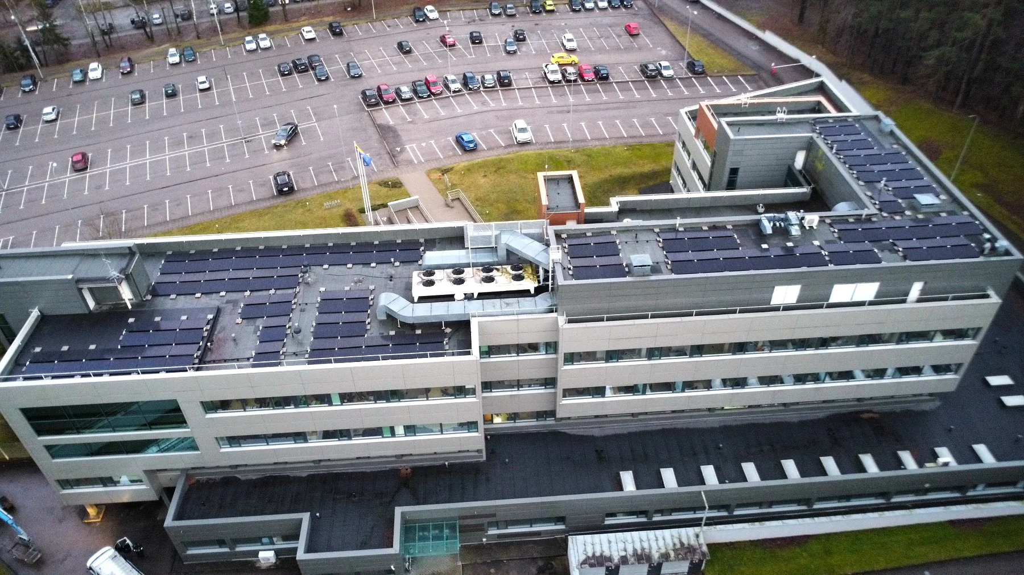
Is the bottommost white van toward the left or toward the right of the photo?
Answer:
left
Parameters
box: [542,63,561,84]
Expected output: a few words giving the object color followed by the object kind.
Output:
white vehicle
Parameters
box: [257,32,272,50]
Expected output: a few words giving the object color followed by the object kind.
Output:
white car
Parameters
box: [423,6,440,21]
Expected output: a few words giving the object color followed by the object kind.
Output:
white car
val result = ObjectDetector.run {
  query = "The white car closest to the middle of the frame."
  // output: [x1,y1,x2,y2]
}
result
[512,119,531,143]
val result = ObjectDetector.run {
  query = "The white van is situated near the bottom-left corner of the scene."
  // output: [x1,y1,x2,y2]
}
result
[90,535,141,575]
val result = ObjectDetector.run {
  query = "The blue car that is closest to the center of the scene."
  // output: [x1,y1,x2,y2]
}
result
[455,132,478,154]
